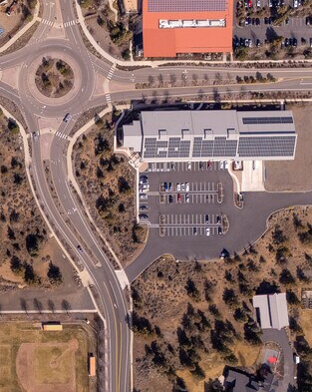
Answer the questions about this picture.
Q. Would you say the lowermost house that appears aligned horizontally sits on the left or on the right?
right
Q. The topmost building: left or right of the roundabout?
to the right of it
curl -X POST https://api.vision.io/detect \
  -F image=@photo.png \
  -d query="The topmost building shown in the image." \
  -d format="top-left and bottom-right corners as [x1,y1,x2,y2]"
[138,0,235,61]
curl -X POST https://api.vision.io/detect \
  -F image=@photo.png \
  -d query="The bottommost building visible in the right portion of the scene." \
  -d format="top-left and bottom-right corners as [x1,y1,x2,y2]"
[224,366,278,392]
